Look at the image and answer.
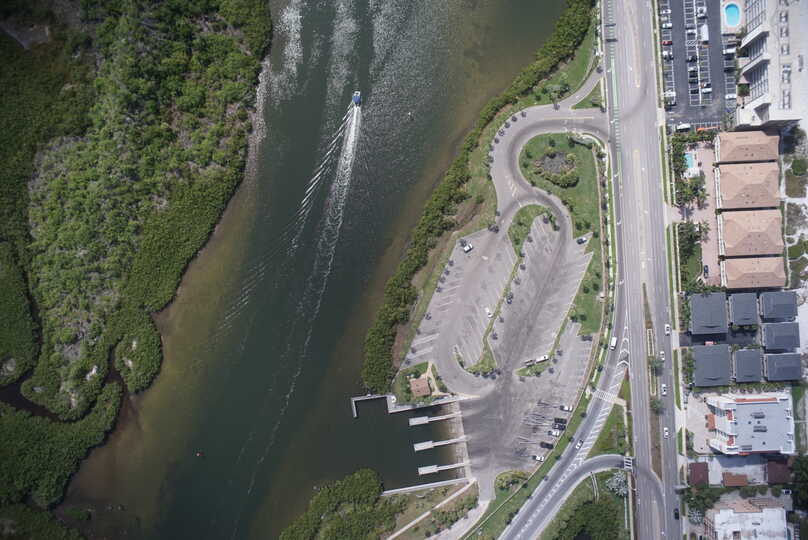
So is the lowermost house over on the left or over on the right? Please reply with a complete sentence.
The lowermost house is on the right side of the image.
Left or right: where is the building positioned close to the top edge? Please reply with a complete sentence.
The building positioned close to the top edge appears in the right half of the scene.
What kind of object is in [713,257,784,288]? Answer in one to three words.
house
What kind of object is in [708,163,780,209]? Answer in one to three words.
house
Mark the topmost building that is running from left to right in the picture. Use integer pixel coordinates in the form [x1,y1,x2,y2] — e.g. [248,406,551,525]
[706,131,780,163]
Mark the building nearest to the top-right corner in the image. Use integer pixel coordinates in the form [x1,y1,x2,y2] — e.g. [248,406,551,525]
[735,0,802,131]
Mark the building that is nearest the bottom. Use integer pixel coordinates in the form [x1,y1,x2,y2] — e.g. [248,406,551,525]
[701,499,787,540]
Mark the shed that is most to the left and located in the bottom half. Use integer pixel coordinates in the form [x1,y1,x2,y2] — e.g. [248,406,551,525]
[410,377,430,398]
